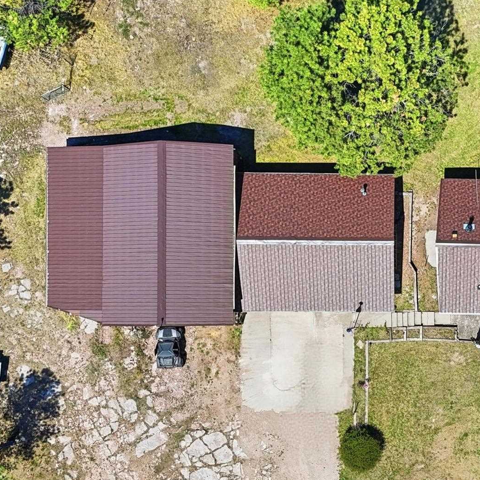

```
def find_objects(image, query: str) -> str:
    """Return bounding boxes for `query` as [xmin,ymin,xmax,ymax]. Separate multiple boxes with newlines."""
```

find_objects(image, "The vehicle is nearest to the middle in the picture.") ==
[143,327,189,377]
